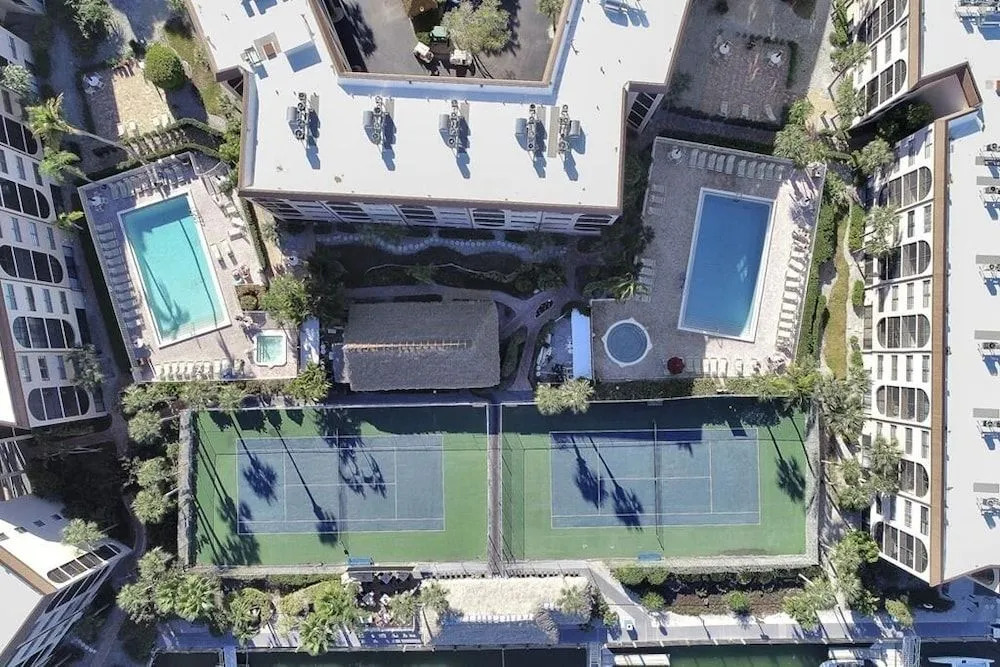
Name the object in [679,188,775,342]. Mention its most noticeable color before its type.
blue swimming pool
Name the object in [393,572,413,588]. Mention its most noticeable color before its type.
gray umbrella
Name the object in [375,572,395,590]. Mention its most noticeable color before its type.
gray umbrella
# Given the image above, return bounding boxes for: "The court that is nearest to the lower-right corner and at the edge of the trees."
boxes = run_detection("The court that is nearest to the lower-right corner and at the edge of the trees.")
[502,397,814,562]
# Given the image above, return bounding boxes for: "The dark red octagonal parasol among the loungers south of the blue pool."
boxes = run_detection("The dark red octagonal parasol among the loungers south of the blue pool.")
[666,356,684,374]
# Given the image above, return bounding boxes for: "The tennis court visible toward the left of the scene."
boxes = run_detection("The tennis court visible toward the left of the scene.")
[191,404,488,567]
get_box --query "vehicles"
[415,42,438,66]
[451,52,474,68]
[431,26,453,44]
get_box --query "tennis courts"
[502,397,814,562]
[191,404,488,567]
